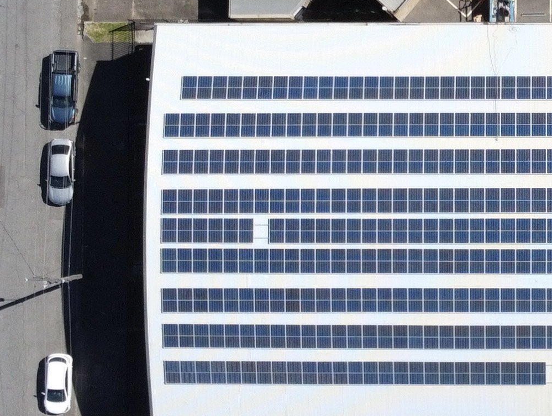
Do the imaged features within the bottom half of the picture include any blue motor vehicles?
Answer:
No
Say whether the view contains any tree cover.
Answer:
No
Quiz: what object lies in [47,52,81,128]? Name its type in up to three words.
truck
